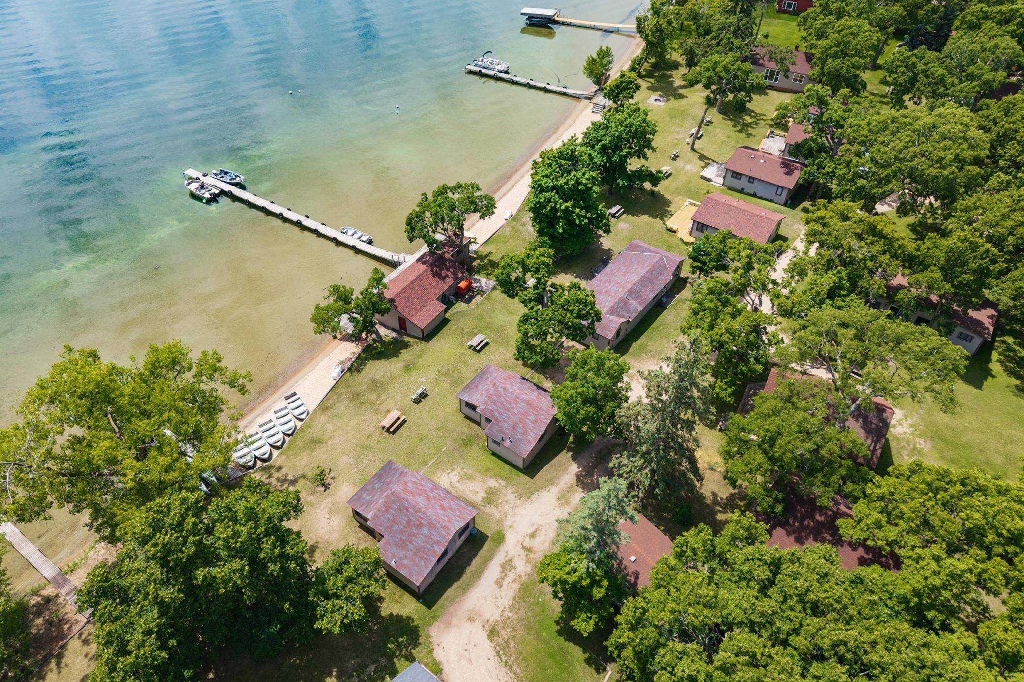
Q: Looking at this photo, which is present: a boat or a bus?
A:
boat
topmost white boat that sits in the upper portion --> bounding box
[471,52,510,74]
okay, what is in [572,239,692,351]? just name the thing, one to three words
building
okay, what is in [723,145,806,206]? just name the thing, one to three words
house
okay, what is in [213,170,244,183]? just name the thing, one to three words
boat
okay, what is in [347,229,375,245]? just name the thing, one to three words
boat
